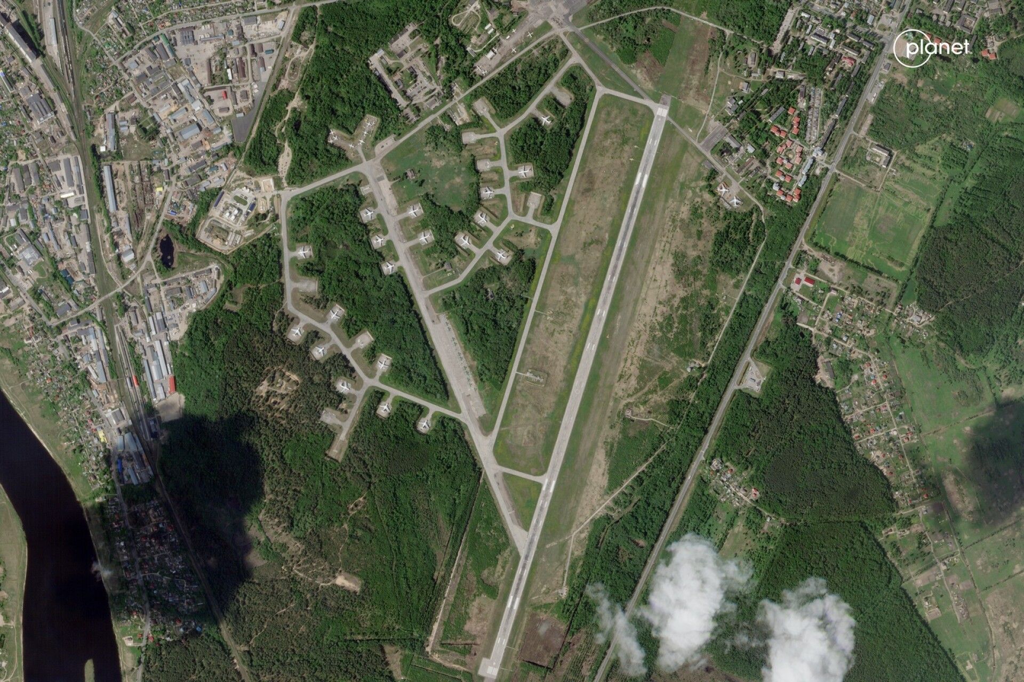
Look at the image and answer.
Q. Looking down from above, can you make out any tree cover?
Yes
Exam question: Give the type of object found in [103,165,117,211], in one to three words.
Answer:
building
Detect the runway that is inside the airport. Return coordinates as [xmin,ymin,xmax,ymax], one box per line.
[486,103,669,679]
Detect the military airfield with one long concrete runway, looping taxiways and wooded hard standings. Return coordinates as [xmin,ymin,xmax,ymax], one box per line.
[278,0,739,682]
